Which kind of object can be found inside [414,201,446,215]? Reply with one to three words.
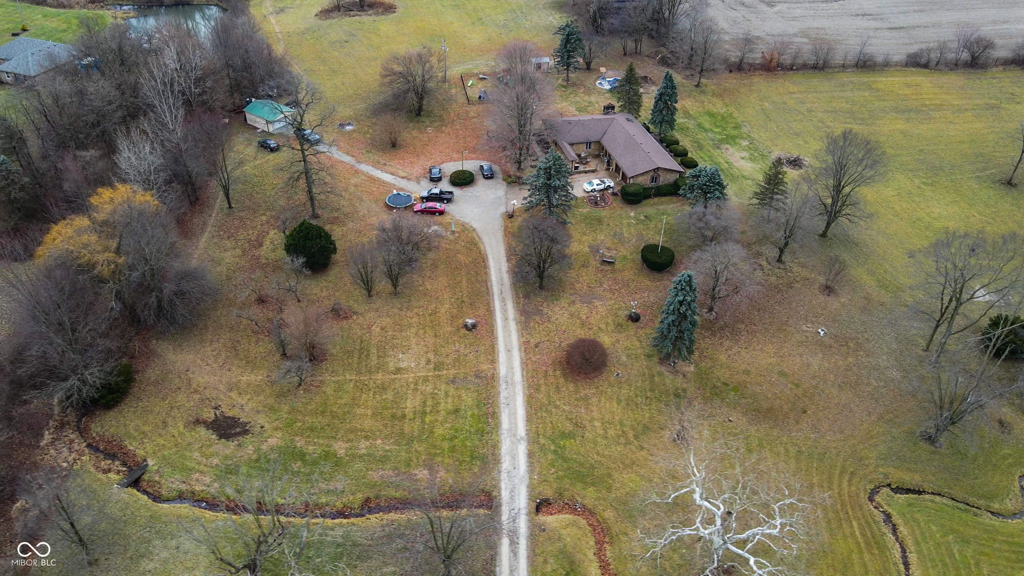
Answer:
car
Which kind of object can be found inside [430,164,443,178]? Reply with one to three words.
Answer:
vehicle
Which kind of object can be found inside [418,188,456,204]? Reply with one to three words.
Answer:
vehicle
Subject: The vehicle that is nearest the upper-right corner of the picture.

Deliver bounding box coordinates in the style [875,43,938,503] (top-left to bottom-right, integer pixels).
[584,178,612,191]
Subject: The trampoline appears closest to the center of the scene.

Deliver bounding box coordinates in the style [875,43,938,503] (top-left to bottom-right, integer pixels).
[386,193,414,211]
